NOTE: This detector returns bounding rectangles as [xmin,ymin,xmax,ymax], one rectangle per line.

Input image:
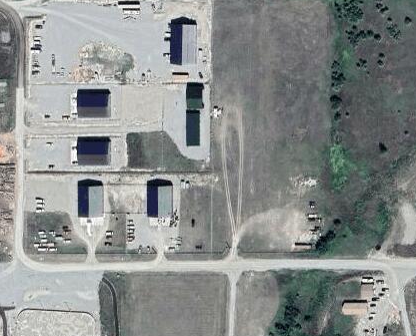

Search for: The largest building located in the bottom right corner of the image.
[341,302,367,315]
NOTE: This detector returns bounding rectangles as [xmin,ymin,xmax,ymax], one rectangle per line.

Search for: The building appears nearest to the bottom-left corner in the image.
[77,185,104,217]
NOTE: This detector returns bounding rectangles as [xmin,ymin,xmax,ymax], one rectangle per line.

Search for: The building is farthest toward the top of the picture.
[170,20,197,64]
